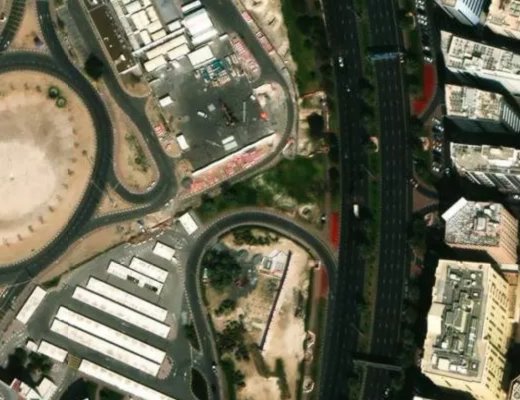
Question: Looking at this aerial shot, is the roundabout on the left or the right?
left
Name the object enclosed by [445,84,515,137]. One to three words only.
building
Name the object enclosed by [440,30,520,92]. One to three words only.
building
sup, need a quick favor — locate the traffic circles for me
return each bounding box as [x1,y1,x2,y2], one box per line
[0,54,110,282]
